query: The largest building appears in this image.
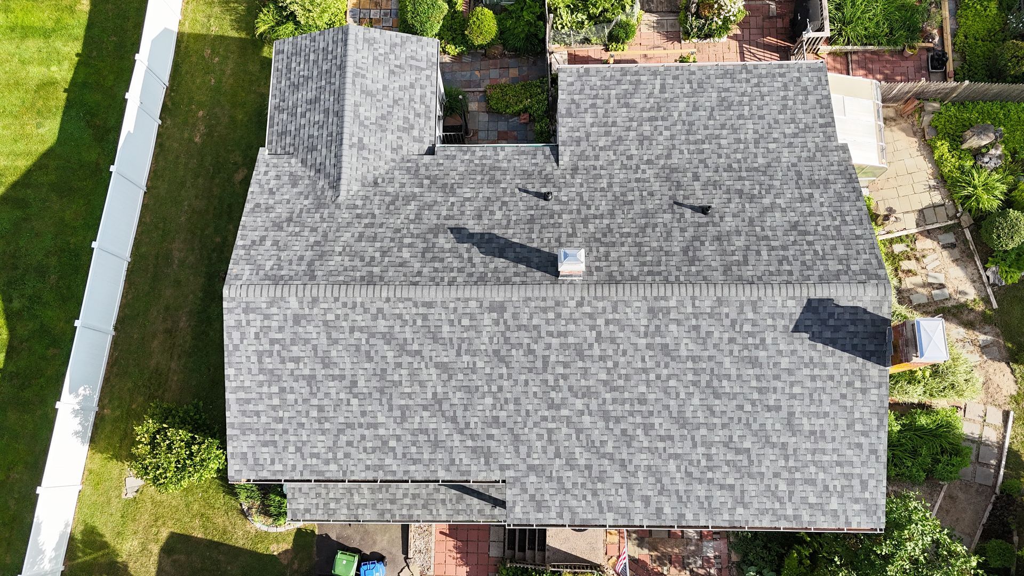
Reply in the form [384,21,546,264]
[223,25,952,534]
